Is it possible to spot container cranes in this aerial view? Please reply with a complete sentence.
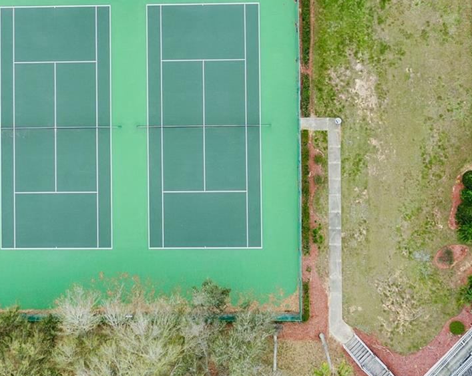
No, the scene contains no container crane.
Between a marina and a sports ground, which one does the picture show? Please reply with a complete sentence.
This image shows a sports ground.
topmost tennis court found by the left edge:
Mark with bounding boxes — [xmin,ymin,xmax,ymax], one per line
[0,4,113,250]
